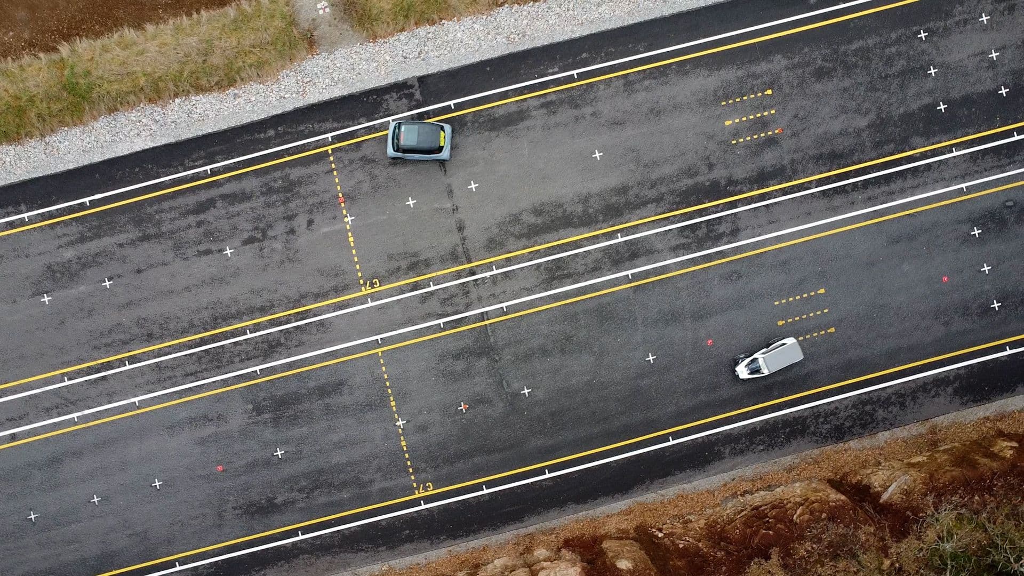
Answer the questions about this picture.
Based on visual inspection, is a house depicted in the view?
No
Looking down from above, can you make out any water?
No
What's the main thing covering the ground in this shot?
paved ground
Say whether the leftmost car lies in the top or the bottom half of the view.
top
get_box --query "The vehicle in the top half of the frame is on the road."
[387,120,452,161]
